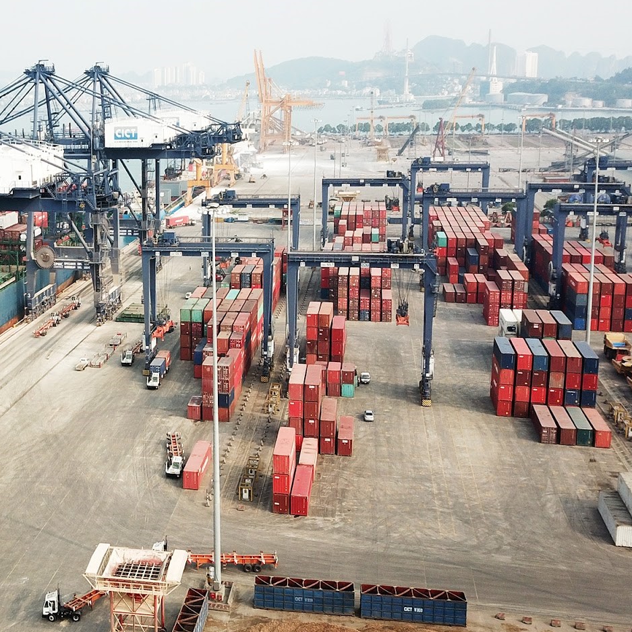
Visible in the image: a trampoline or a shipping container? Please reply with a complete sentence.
There is a shipping container in the scene.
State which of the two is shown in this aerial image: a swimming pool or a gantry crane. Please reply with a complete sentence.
The one in the frame is a gantry crane.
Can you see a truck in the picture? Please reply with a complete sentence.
Yes, a truck appears in the view.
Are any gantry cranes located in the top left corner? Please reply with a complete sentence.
Yes, you'll find a gantry crane in the top left corner.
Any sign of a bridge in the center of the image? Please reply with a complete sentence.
No, I see no bridge in the center of the image.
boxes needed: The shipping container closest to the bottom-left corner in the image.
[183,443,212,491]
